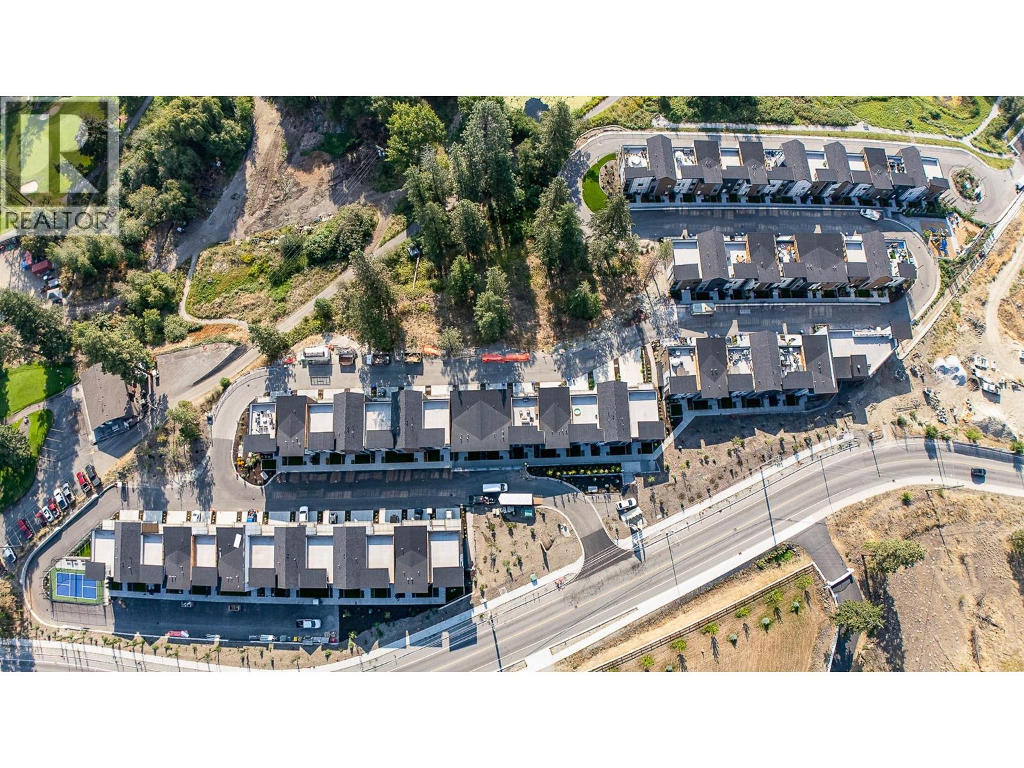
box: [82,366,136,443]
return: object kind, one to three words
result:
building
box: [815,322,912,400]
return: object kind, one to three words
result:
house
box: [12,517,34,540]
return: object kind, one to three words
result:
truck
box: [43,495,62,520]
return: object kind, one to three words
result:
vehicle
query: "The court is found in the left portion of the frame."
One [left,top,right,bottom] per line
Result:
[50,568,104,604]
